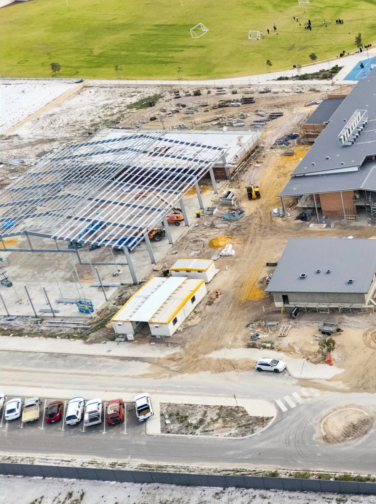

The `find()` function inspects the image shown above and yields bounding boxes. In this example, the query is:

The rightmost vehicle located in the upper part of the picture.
[242,183,264,201]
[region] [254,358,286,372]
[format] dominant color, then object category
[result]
white car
